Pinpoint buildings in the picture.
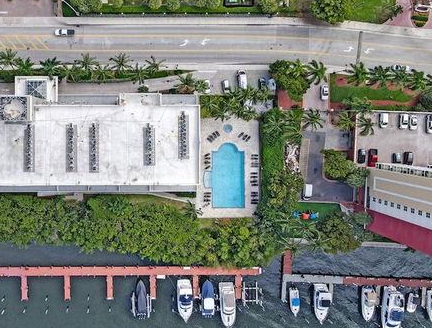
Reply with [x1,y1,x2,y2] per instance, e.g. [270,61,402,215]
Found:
[0,75,200,194]
[358,166,432,254]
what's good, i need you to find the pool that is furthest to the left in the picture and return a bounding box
[195,118,259,217]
